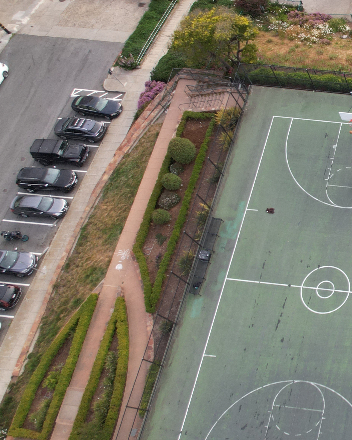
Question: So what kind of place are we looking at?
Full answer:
What you see here is a sports ground.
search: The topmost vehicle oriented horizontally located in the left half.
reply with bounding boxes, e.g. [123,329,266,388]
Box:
[70,95,125,121]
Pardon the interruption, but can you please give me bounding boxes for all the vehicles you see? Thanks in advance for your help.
[0,230,31,242]
[30,138,91,168]
[14,165,79,195]
[0,285,24,313]
[53,116,109,143]
[10,193,71,222]
[0,249,40,278]
[70,95,125,121]
[0,60,12,86]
